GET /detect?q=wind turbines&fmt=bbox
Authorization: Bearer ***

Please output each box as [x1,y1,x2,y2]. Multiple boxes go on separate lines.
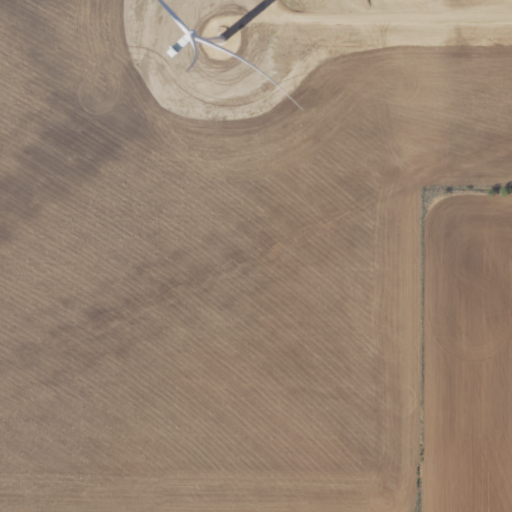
[159,0,302,110]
